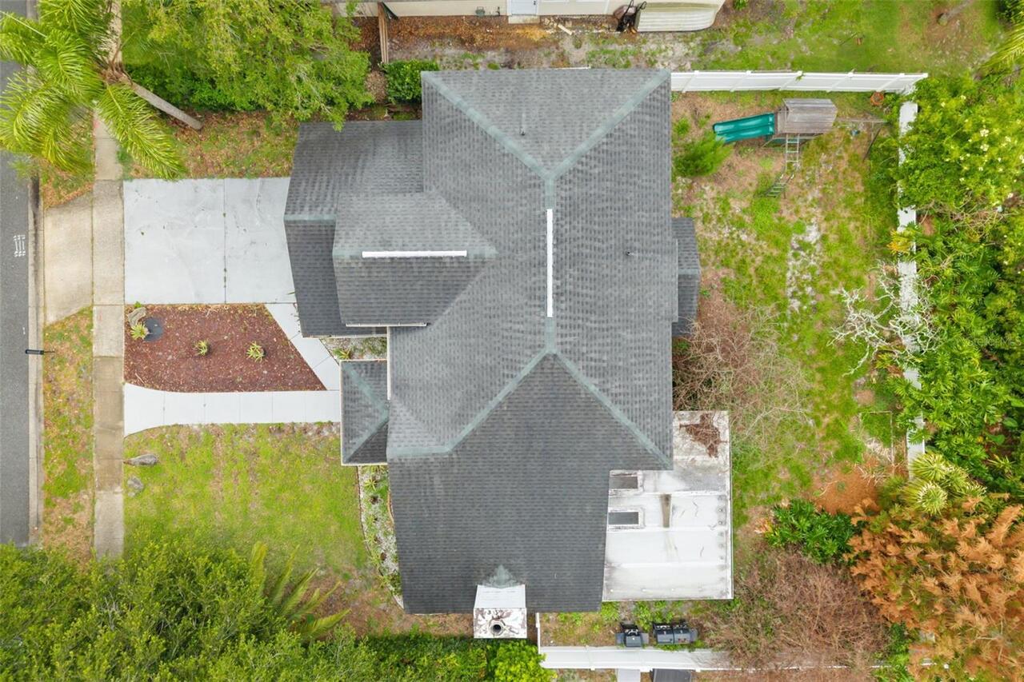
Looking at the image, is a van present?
No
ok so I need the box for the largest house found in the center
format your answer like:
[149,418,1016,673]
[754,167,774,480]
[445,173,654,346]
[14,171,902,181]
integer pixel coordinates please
[284,66,734,638]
